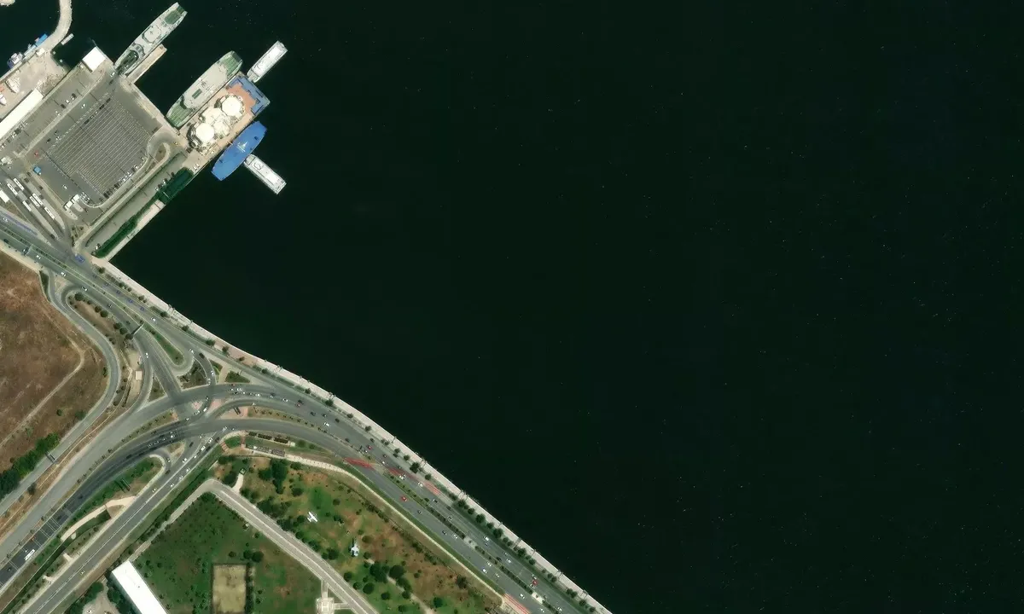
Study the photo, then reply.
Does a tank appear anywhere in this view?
No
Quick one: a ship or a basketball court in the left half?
ship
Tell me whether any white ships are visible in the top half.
Yes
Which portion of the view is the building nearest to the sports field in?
bottom left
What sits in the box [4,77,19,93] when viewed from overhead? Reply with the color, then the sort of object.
white boat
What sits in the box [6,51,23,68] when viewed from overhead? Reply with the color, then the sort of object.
white boat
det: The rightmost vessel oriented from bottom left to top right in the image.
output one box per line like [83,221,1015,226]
[248,42,286,82]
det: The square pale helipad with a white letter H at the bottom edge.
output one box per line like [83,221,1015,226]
[315,580,350,614]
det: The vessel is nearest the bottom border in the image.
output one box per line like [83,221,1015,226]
[245,155,285,194]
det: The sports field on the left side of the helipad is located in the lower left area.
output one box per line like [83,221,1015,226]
[211,563,247,614]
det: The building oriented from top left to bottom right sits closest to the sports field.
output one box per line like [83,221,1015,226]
[112,560,167,614]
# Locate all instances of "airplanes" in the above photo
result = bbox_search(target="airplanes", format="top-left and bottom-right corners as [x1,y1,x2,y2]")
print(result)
[307,511,319,522]
[351,541,360,557]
